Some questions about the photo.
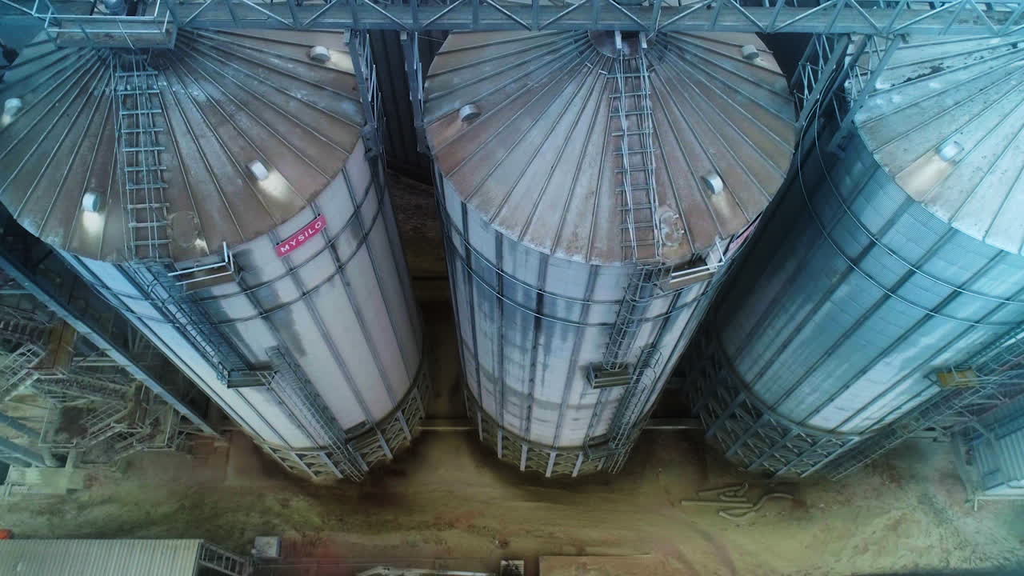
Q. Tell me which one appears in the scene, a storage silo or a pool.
storage silo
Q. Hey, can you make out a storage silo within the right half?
Yes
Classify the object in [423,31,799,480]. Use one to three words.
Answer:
silo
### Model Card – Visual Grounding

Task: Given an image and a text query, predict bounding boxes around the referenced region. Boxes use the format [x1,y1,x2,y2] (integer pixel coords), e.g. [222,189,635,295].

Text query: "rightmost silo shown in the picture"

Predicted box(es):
[681,0,1024,479]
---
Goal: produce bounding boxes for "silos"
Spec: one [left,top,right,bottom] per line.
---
[0,23,438,482]
[423,31,799,480]
[681,0,1024,479]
